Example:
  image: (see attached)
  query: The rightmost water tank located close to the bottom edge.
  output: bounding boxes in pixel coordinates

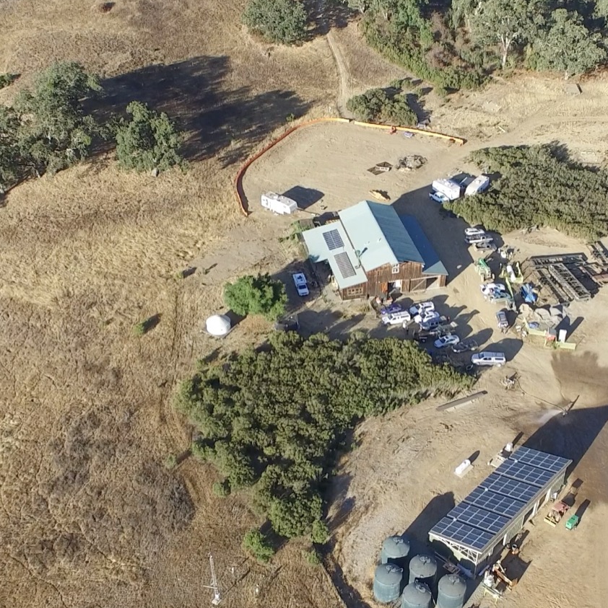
[438,571,468,608]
